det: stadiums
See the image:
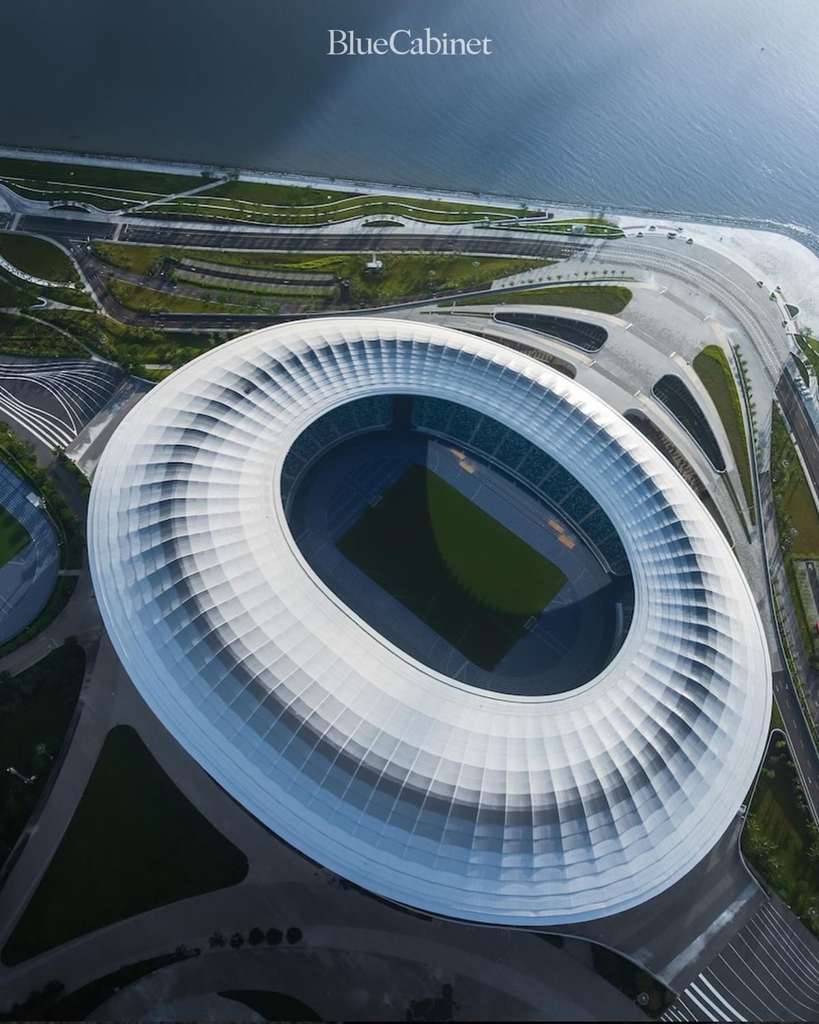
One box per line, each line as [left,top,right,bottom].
[86,316,772,928]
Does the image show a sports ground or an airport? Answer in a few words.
sports ground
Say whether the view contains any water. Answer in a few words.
Yes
